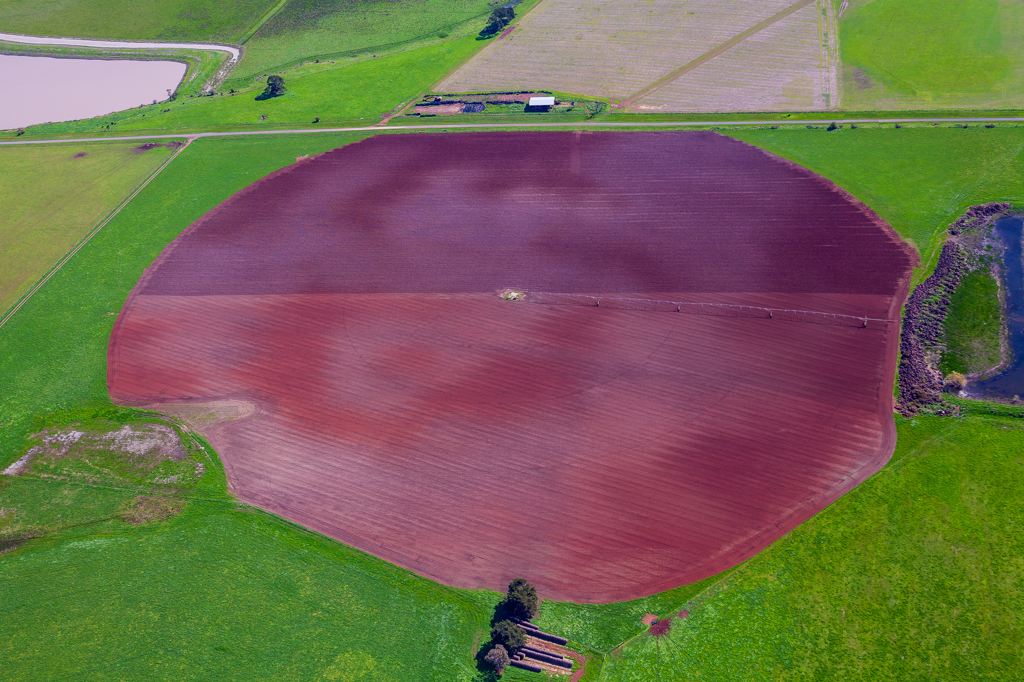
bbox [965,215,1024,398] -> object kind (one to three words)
pond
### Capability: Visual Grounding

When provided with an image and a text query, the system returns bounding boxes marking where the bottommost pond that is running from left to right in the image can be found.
[0,54,186,129]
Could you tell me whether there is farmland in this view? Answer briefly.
Yes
